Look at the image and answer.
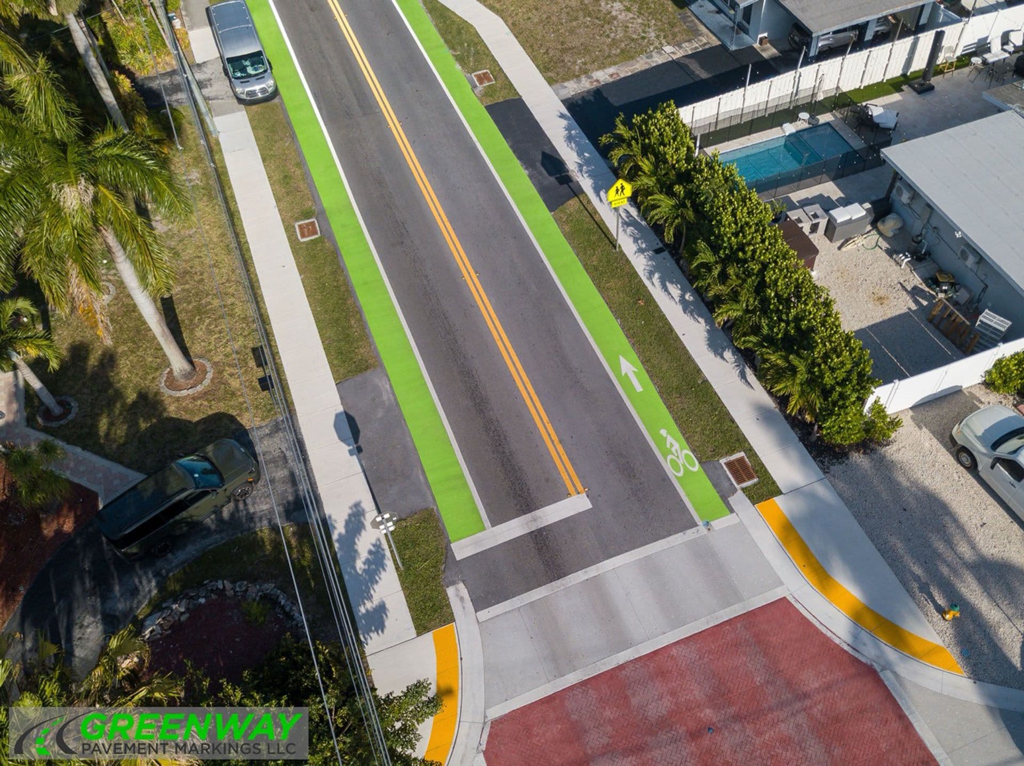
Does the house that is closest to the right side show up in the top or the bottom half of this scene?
top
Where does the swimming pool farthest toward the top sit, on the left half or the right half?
right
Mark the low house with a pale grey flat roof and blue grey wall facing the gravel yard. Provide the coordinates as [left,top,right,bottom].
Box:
[865,78,1024,341]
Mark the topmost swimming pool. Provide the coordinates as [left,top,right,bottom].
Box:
[712,114,877,200]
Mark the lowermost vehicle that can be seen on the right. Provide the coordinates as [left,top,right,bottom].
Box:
[949,412,1024,540]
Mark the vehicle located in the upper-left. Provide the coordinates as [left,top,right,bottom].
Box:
[211,0,279,103]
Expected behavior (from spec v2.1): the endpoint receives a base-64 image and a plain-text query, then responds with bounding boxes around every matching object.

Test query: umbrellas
[910,31,950,92]
[808,75,828,123]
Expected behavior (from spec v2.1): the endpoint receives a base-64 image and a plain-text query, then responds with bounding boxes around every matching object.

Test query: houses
[865,78,1024,341]
[683,0,938,74]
